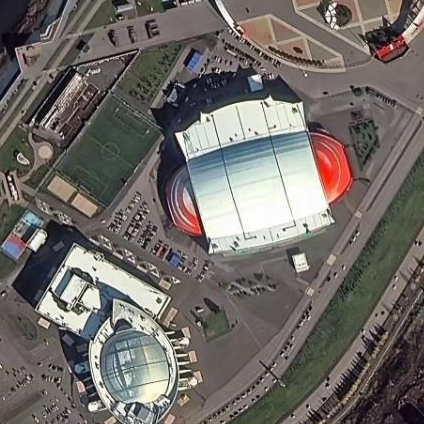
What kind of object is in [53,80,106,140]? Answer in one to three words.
building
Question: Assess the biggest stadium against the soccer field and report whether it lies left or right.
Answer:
to the right of it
